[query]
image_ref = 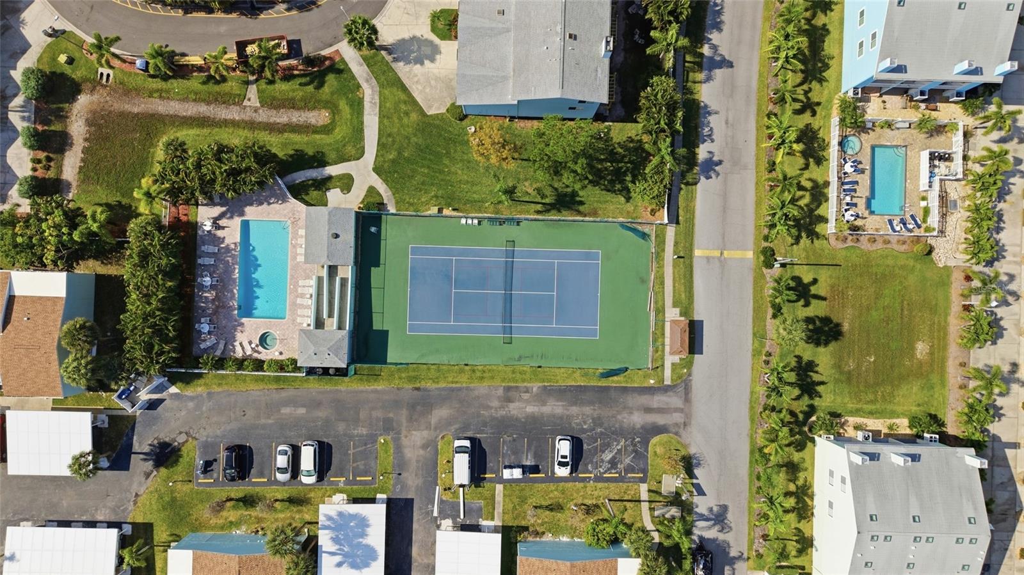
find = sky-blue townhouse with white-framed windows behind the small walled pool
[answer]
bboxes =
[841,0,1021,107]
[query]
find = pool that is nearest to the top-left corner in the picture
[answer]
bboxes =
[236,219,292,321]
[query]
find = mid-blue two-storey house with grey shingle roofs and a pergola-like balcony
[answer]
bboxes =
[457,0,619,119]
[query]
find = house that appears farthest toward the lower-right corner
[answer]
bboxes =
[813,428,992,575]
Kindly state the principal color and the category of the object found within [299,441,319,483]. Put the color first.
white car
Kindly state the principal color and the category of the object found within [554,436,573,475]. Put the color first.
white car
